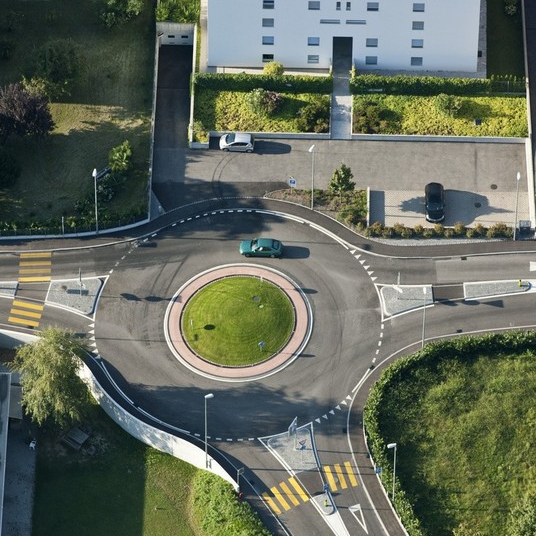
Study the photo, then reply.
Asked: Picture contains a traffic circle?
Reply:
Yes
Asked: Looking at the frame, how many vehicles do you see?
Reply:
three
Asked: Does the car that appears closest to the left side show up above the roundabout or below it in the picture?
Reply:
above it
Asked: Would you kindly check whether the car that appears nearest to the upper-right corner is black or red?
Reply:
black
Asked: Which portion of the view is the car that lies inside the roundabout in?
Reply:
center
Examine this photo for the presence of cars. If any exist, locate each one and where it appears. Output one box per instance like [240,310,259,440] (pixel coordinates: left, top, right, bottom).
[424,182,446,222]
[240,237,283,257]
[220,132,254,153]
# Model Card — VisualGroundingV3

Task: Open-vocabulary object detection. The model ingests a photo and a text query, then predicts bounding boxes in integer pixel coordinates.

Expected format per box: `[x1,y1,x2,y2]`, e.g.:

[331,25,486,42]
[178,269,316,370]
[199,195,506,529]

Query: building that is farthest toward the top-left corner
[158,21,193,44]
